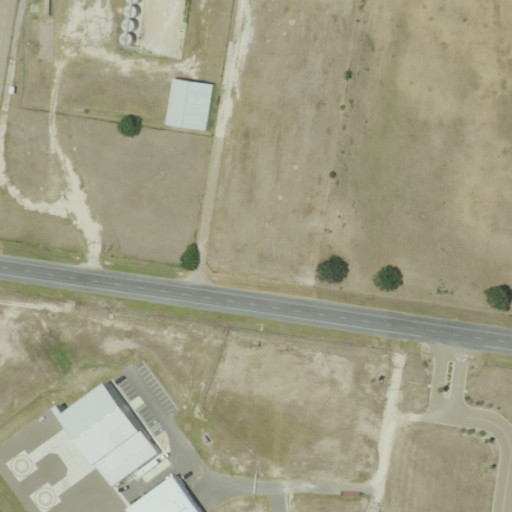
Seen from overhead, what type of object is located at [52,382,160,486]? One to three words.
hangar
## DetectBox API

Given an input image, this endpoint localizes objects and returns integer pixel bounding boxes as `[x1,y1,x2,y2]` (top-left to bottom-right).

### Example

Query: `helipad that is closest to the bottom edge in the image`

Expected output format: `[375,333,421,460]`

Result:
[30,482,62,512]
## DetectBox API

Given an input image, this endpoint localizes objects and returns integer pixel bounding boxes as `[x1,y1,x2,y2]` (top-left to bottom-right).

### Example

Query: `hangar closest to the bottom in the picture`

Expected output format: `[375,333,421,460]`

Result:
[126,472,204,512]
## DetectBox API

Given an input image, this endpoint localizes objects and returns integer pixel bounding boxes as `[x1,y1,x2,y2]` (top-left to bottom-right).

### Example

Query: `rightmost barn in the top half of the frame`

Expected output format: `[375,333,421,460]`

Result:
[166,78,214,130]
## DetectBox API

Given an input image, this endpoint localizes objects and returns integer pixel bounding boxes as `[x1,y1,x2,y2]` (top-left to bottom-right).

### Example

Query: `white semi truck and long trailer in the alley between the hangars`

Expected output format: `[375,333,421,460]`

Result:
[135,453,170,476]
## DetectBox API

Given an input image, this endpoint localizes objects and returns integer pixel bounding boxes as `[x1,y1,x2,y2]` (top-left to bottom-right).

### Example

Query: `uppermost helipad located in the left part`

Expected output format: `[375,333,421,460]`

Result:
[6,450,38,482]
